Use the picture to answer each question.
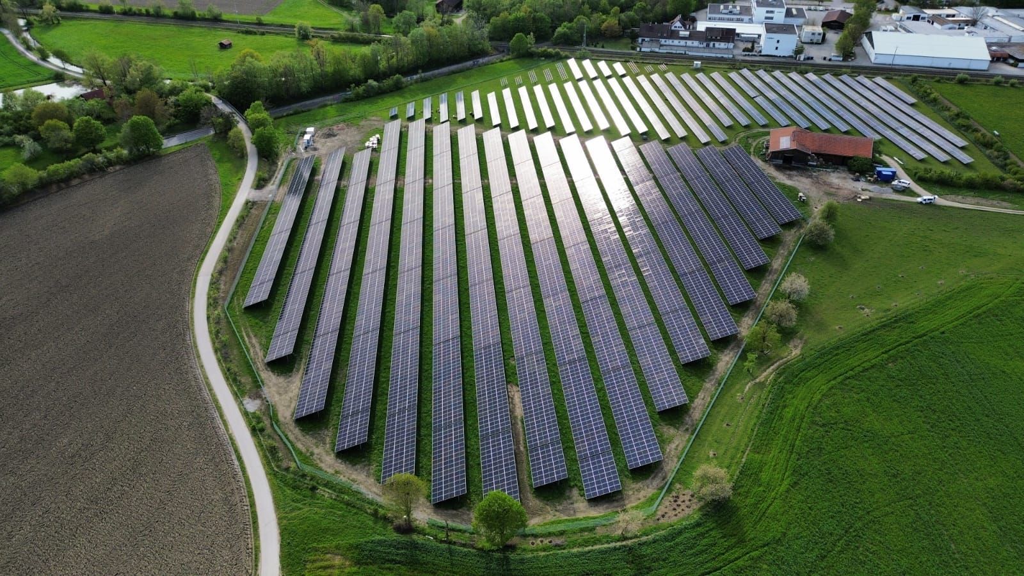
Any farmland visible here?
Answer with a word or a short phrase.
Yes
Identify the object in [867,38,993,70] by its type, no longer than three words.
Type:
building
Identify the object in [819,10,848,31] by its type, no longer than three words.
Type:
shed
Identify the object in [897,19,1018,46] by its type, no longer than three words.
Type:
building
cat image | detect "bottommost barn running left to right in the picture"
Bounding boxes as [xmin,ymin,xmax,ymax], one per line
[769,124,873,166]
